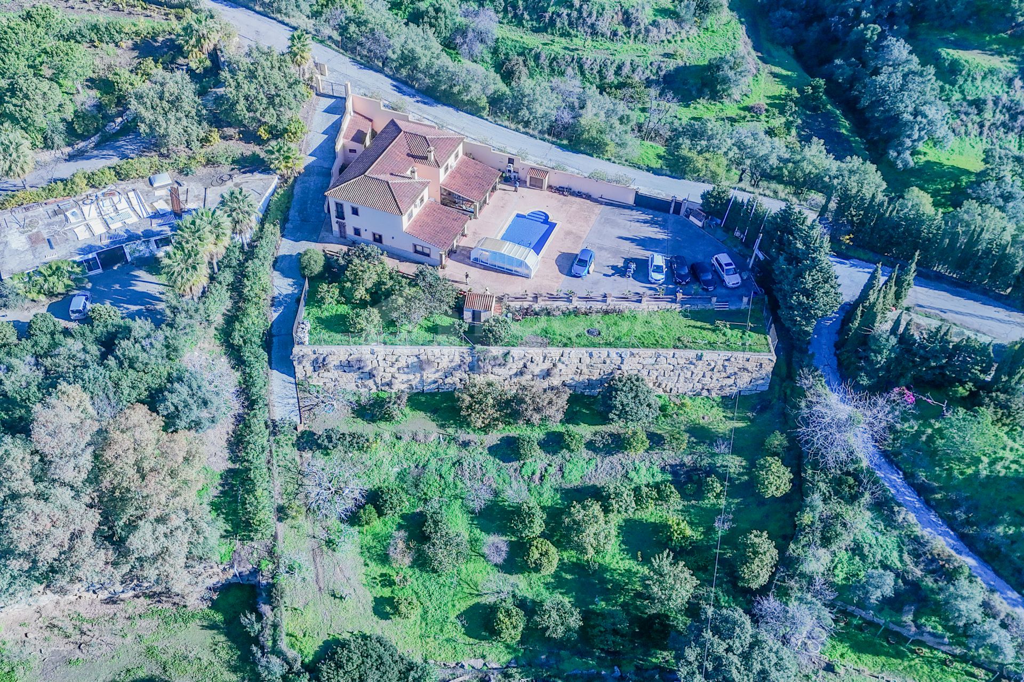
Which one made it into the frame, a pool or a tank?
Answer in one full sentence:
The image shows a pool.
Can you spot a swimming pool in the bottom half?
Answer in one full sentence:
No, no swimming pool appears in the bottom half.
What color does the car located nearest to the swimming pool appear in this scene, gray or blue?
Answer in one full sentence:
From above, the car located nearest to the swimming pool appears blue.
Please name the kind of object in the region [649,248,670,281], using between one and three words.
car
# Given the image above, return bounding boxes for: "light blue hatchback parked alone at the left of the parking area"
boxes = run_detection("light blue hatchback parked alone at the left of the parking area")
[573,244,596,274]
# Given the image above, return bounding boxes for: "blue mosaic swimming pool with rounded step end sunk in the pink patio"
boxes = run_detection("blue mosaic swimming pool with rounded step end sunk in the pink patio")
[483,210,560,277]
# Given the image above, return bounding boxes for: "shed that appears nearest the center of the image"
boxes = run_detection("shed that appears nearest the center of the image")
[462,281,500,322]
